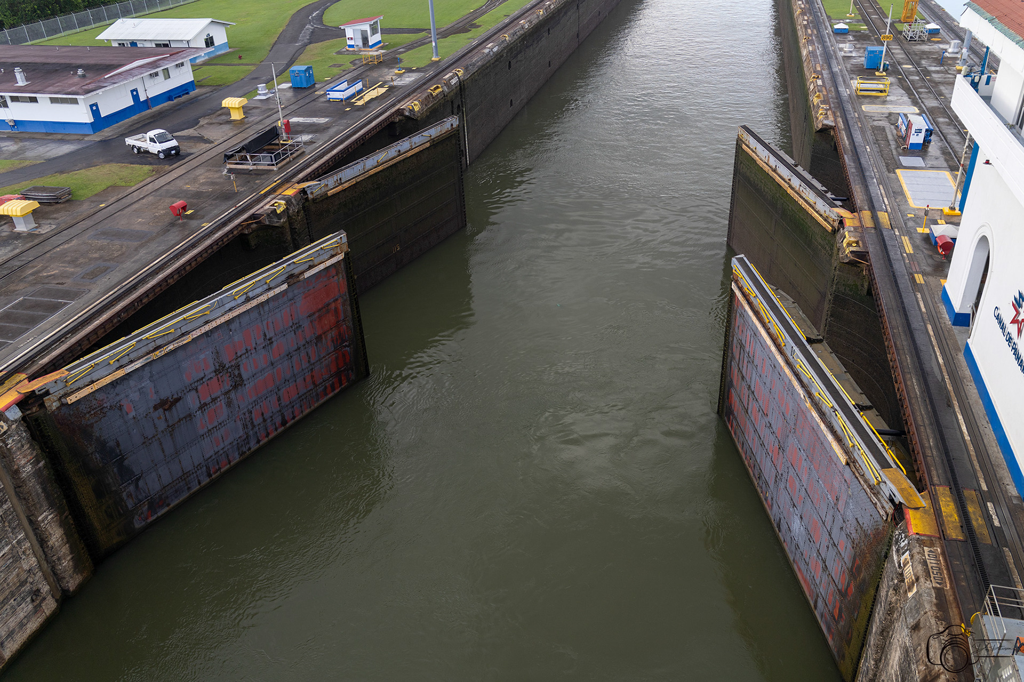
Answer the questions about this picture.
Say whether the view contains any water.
Yes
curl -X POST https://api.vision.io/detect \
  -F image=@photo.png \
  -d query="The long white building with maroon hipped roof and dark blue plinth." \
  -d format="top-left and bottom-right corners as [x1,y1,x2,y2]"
[0,47,212,133]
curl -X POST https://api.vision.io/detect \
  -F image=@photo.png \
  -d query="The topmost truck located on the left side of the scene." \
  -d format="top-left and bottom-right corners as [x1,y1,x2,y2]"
[132,130,178,157]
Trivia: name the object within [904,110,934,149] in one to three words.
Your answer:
shed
